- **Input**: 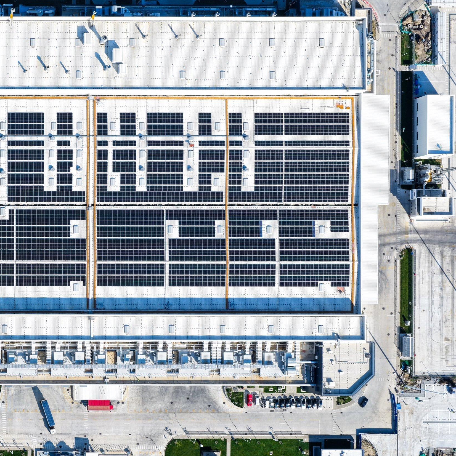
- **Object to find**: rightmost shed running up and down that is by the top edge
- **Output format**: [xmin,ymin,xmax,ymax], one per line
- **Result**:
[430,11,447,67]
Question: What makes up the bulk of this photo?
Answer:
buildings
